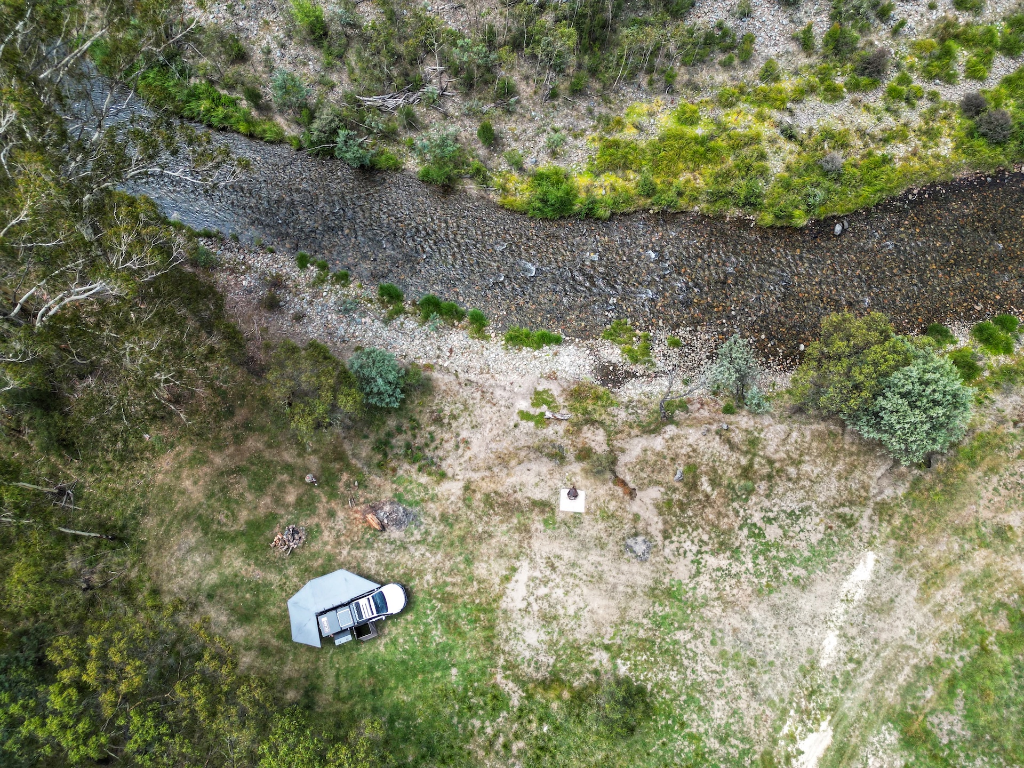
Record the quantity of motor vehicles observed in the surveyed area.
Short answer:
one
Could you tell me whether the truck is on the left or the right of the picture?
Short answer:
left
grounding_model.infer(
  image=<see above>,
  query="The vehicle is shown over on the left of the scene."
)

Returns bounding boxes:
[288,568,409,651]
